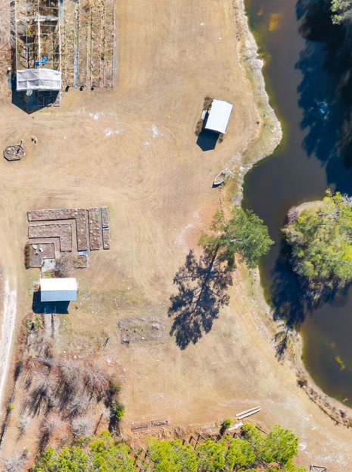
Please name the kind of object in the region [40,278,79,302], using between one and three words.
shed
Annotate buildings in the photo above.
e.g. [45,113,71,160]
[13,0,62,93]
[40,278,79,302]
[205,98,238,135]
